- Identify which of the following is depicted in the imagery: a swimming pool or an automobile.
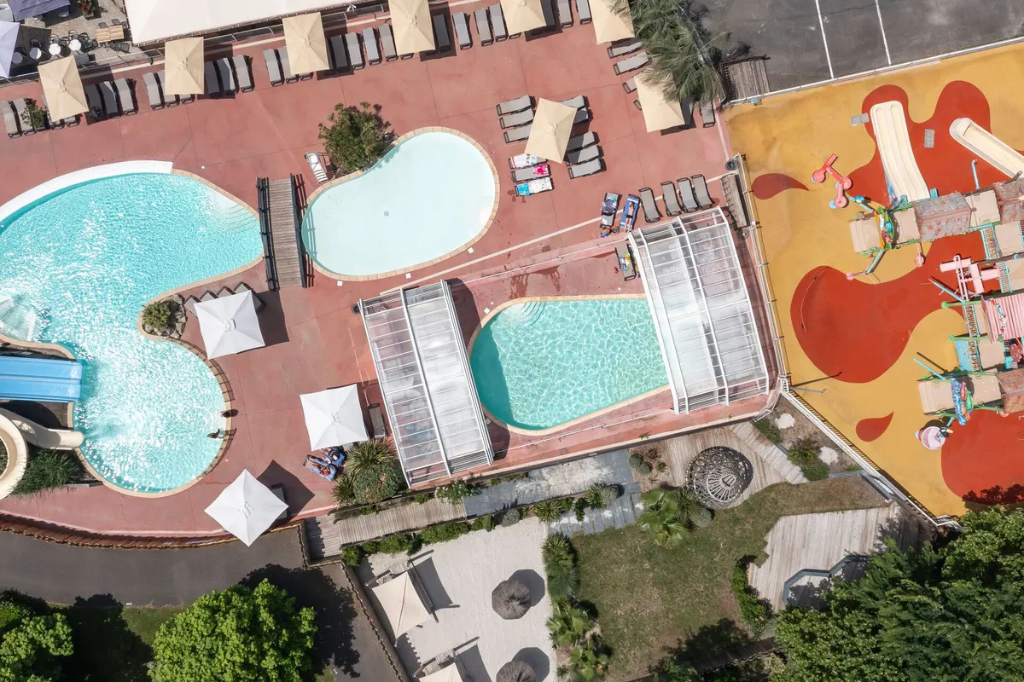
swimming pool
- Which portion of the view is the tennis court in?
top right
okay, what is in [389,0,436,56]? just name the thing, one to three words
umbrella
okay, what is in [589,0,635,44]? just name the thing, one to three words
umbrella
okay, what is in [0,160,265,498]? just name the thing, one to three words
swimming pool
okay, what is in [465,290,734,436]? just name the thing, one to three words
swimming pool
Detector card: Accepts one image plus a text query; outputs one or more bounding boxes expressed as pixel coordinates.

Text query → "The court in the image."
[680,0,1024,103]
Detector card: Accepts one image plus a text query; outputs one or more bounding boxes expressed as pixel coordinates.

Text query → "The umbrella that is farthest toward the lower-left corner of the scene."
[206,469,289,552]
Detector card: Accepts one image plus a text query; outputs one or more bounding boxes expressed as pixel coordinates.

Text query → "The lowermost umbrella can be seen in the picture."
[496,656,537,682]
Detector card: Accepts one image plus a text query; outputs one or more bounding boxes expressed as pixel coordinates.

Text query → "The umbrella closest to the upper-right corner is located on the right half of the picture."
[634,68,684,133]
